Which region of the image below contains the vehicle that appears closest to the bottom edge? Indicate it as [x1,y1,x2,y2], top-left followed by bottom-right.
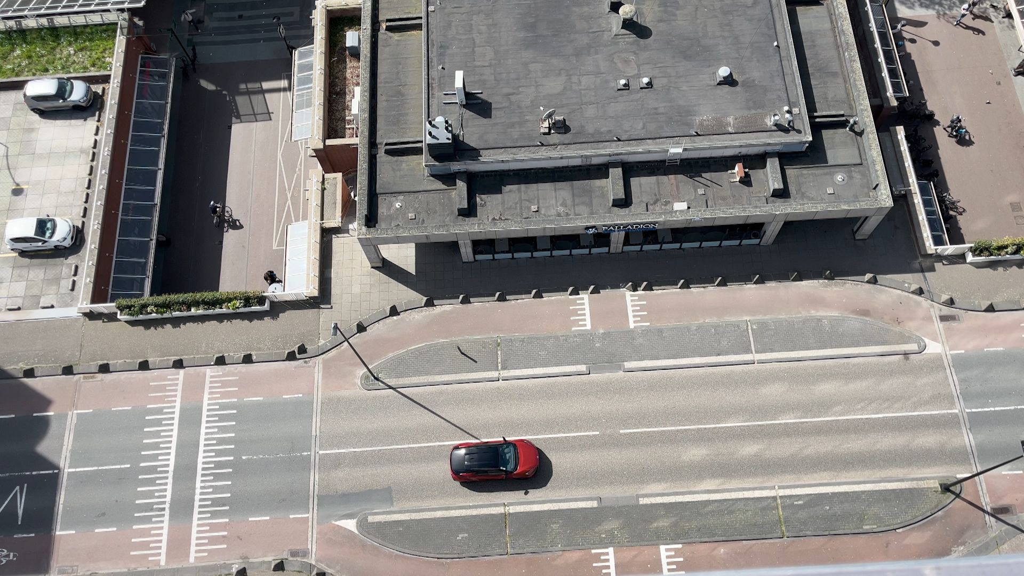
[451,434,539,483]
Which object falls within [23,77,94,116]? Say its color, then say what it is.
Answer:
gray car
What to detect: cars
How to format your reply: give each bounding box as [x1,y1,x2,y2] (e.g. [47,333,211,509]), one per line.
[451,434,539,483]
[23,77,94,116]
[6,214,77,256]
